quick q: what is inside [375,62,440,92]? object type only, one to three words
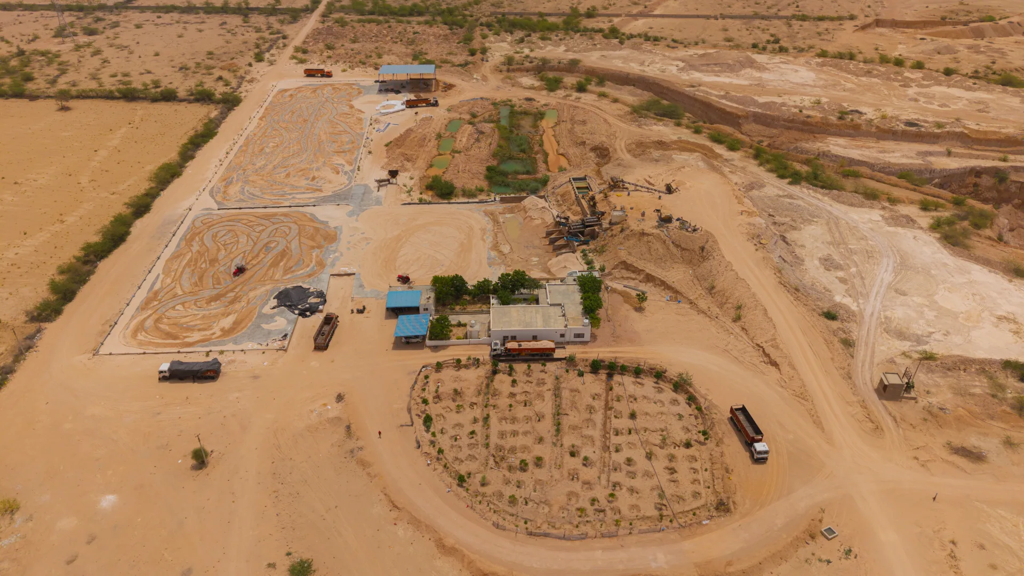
shed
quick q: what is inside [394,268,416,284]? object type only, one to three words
work vehicle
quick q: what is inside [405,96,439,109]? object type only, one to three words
vehicle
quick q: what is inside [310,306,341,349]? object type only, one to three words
truck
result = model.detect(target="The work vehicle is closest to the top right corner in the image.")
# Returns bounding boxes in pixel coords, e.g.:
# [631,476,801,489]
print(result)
[648,197,672,224]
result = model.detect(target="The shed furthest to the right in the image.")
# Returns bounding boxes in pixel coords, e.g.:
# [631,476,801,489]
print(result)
[878,371,918,399]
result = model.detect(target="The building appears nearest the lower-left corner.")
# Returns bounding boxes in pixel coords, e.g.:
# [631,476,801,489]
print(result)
[385,286,431,319]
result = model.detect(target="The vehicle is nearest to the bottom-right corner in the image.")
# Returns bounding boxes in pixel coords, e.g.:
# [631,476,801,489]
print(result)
[733,405,775,460]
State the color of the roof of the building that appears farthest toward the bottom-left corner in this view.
blue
